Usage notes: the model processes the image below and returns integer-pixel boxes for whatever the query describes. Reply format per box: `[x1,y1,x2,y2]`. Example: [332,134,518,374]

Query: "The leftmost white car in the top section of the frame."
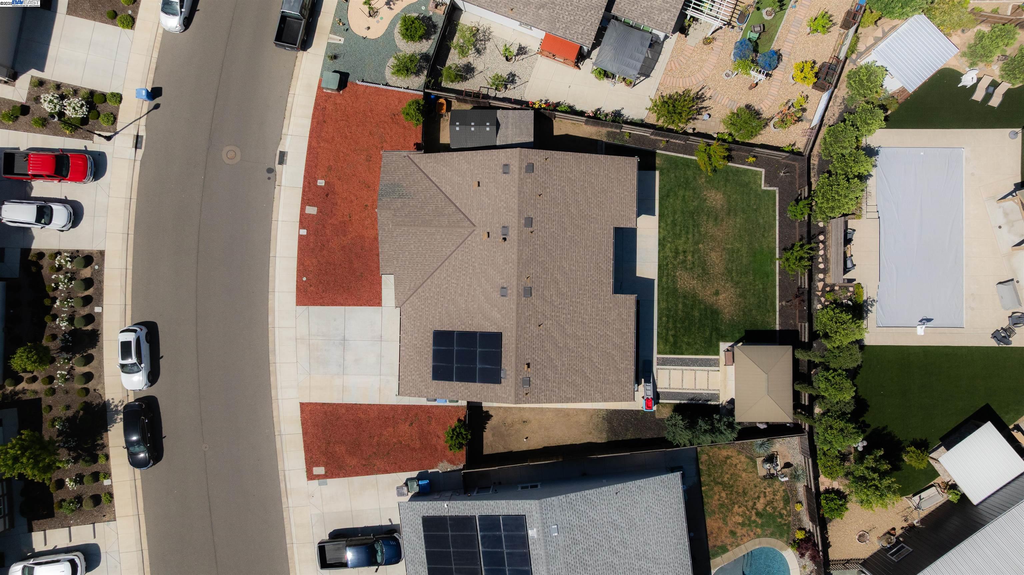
[0,199,76,232]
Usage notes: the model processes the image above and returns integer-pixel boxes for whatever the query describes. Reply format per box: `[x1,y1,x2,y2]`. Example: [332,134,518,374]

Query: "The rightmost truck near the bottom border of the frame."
[316,533,403,573]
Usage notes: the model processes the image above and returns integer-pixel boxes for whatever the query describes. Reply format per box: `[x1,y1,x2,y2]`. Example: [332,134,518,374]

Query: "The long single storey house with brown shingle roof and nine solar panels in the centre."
[378,149,640,404]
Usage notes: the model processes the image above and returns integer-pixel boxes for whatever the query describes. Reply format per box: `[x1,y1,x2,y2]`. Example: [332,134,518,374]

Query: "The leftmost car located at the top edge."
[157,0,192,35]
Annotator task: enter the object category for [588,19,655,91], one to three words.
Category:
gazebo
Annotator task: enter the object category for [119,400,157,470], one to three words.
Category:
car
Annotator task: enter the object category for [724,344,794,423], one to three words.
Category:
building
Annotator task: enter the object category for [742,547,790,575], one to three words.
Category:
swimming pool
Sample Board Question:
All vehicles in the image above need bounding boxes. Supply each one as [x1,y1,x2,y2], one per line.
[157,0,192,35]
[0,199,76,232]
[119,400,157,470]
[0,147,96,183]
[274,0,315,56]
[113,325,151,392]
[316,533,403,573]
[8,552,90,575]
